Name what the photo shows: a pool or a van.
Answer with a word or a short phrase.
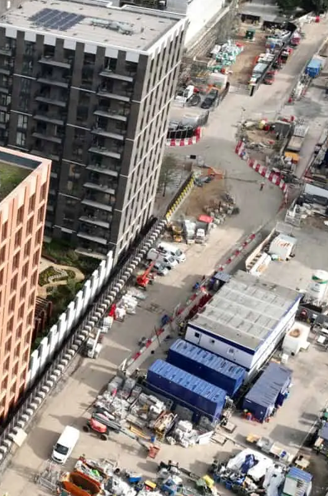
van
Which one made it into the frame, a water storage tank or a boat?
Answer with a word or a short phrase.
water storage tank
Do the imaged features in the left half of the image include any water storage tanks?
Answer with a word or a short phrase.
No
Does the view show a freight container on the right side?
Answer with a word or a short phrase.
Yes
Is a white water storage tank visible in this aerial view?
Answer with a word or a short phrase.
Yes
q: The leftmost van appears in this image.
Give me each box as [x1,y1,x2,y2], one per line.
[54,420,83,462]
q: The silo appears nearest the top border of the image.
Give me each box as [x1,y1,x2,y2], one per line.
[305,261,328,311]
